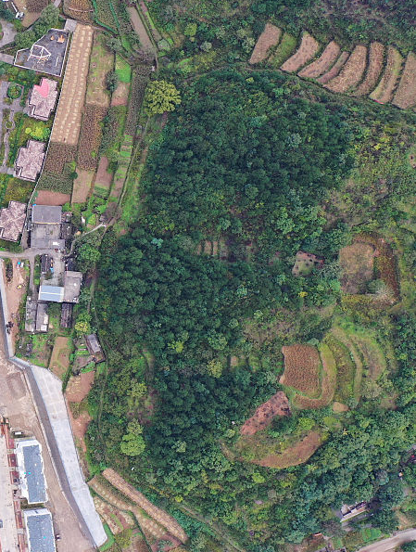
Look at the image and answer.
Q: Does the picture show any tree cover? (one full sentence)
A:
Yes, there's tree cover in this view.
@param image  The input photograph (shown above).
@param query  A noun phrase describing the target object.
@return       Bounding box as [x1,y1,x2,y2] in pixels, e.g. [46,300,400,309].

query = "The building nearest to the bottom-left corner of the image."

[21,505,58,552]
